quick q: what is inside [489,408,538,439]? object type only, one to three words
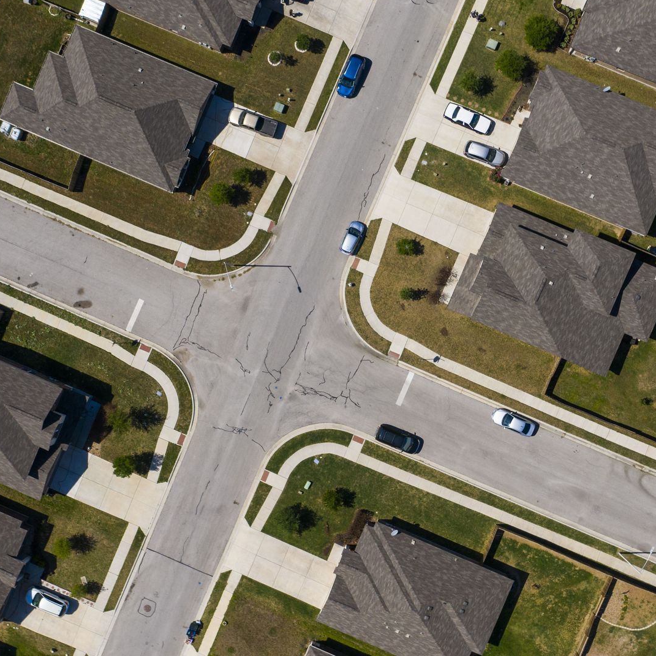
car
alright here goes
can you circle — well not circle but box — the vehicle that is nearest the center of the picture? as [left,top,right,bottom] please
[338,219,366,257]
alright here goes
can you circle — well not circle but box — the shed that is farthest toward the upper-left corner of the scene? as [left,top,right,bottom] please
[75,0,106,25]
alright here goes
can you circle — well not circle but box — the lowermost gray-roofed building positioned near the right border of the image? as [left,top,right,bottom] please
[447,203,656,376]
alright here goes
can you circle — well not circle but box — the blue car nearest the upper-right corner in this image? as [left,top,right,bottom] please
[334,52,368,99]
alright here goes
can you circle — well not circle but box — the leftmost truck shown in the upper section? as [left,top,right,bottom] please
[225,110,280,146]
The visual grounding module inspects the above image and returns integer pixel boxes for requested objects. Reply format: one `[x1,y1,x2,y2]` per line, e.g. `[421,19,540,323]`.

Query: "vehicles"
[338,219,366,257]
[375,422,424,455]
[464,138,508,169]
[24,588,69,620]
[442,102,494,137]
[334,52,368,99]
[489,408,538,439]
[225,110,280,146]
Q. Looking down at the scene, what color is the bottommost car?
white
